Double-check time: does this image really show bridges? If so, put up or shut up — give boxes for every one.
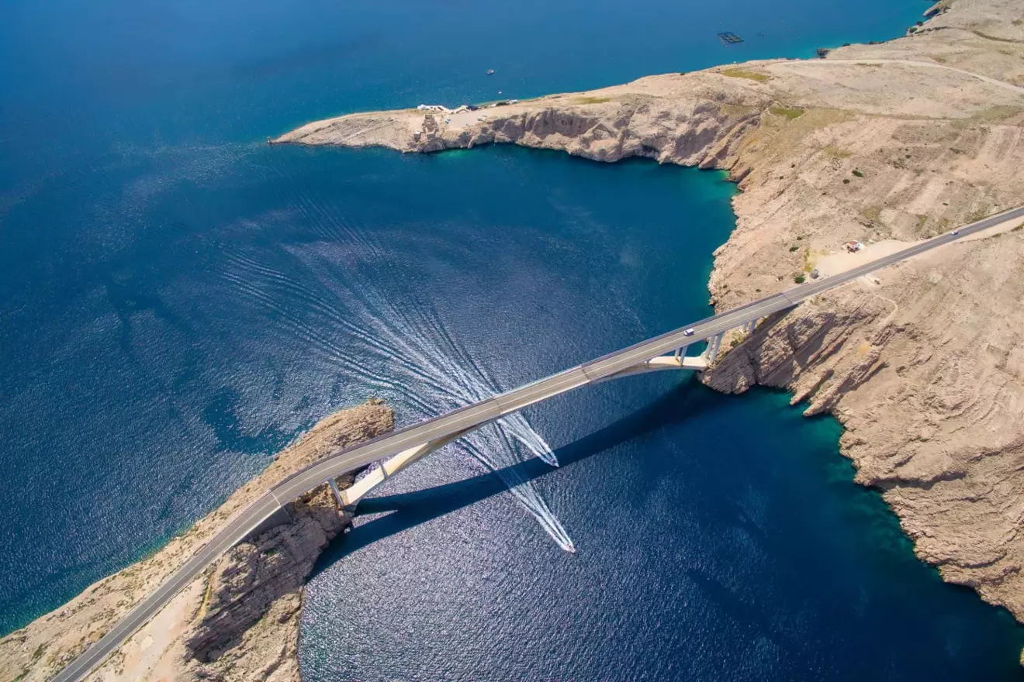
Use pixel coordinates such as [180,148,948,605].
[189,283,817,582]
